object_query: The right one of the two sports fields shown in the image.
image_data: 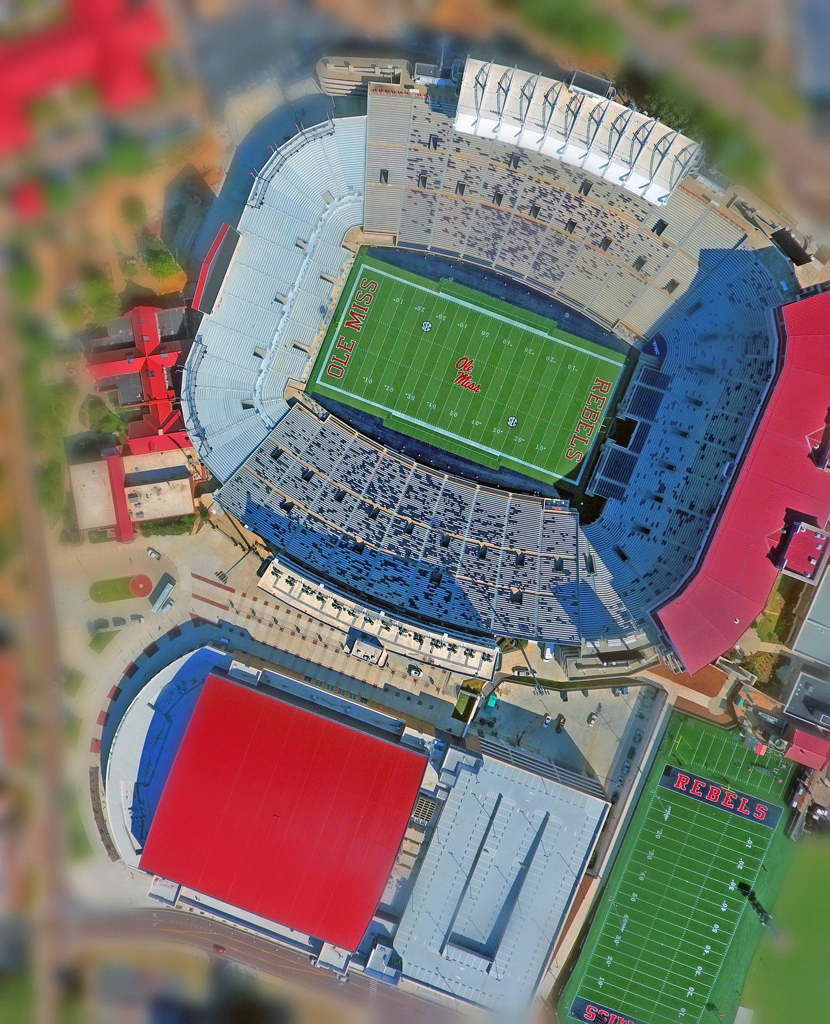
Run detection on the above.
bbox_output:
[557,714,795,1024]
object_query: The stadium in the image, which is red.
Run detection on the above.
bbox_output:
[105,632,443,976]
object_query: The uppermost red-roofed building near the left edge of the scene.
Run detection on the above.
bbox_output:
[0,0,183,175]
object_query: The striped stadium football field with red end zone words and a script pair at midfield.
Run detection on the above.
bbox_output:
[301,246,643,495]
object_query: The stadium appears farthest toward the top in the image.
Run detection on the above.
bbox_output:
[178,51,830,683]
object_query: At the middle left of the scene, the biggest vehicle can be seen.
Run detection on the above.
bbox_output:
[149,583,173,616]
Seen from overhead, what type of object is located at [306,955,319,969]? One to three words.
vehicle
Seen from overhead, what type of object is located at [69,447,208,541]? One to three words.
building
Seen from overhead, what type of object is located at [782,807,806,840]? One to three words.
shed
